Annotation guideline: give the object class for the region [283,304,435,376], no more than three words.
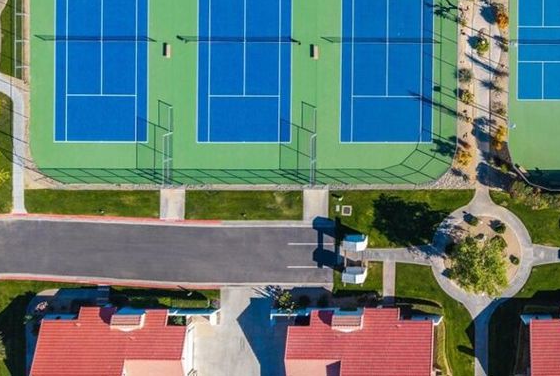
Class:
house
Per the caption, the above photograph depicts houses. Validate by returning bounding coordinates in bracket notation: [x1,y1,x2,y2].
[29,304,196,376]
[527,314,560,376]
[283,304,435,376]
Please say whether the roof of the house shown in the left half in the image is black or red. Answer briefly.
red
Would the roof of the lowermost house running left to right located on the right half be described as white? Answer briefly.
No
